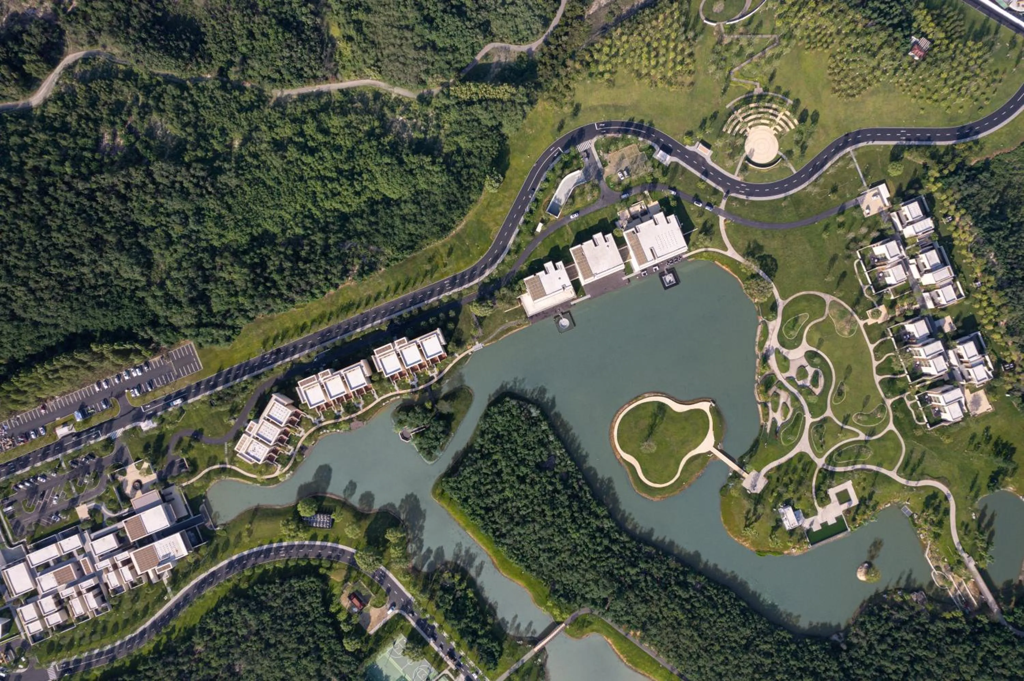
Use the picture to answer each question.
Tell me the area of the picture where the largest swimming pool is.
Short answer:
bottom right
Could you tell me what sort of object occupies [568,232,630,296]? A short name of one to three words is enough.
building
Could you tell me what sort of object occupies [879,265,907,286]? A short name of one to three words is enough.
house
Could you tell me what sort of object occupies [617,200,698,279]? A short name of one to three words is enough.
building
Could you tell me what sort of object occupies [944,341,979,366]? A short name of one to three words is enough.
house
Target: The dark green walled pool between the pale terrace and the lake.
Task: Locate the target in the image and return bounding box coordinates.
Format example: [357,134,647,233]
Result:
[808,514,850,549]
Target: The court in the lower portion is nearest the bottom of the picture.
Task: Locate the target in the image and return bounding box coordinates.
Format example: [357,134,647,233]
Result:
[367,634,439,681]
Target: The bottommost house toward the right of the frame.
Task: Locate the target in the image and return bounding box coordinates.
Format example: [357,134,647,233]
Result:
[775,505,805,531]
